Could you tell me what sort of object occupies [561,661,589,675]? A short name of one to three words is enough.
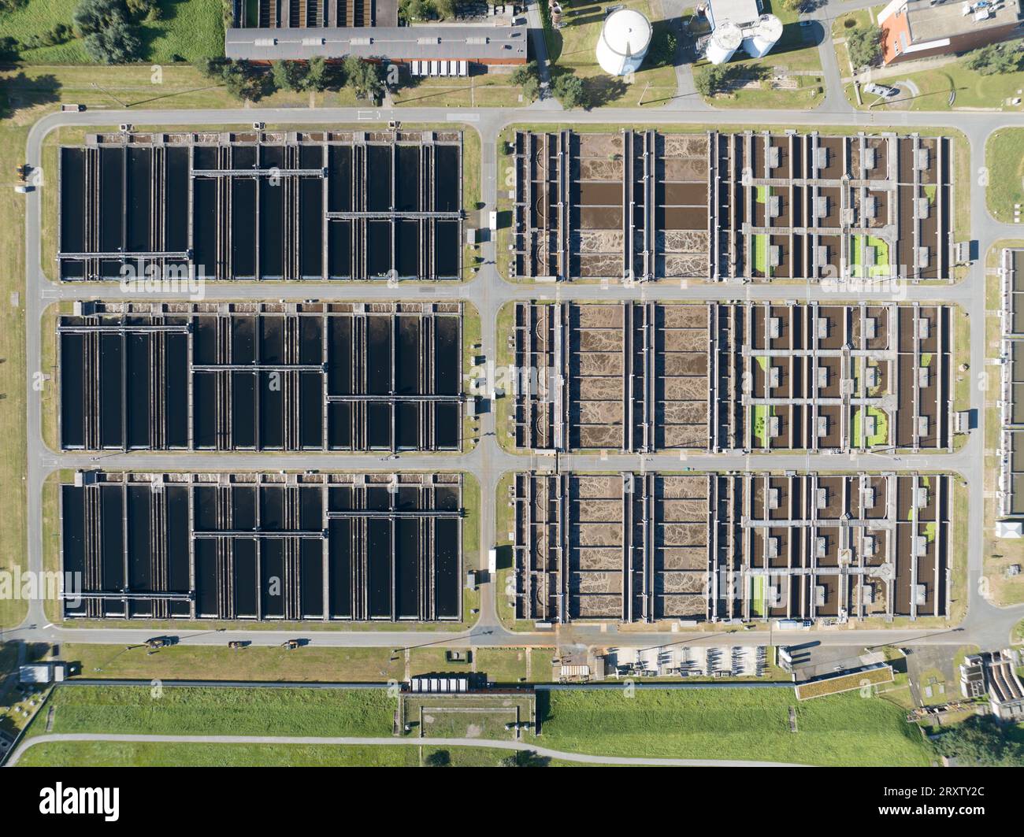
building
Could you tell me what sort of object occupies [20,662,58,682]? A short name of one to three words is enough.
shed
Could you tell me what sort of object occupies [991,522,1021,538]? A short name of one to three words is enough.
building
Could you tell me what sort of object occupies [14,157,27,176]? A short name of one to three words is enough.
vehicle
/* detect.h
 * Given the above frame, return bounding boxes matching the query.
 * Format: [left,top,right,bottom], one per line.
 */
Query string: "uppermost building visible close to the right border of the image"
[877,0,1021,65]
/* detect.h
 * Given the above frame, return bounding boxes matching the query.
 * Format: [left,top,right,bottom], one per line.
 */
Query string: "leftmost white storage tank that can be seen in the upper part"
[598,6,655,77]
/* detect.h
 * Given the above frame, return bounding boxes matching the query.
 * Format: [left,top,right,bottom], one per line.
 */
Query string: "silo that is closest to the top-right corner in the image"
[745,12,785,57]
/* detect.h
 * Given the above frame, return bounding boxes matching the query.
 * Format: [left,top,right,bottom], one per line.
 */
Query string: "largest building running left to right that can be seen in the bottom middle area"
[398,689,536,739]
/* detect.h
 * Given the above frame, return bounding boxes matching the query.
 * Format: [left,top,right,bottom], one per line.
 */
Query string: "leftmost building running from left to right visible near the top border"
[224,28,527,64]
